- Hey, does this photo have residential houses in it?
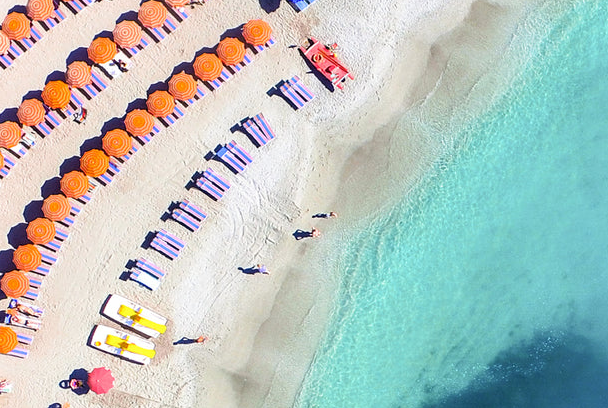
No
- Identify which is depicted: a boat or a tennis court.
boat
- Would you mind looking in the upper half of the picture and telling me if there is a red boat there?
Yes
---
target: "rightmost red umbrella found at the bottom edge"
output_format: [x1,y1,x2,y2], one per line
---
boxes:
[85,366,113,394]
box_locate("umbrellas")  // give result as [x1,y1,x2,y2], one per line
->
[81,149,111,180]
[243,18,272,48]
[216,37,247,67]
[0,120,24,150]
[85,366,113,394]
[15,99,45,129]
[192,53,221,82]
[65,60,96,89]
[0,324,19,353]
[167,72,198,102]
[145,88,175,118]
[0,271,29,301]
[0,11,29,40]
[41,80,71,111]
[41,195,70,225]
[25,215,54,245]
[162,0,188,9]
[12,243,40,272]
[59,169,89,197]
[102,127,132,156]
[140,0,169,30]
[113,20,142,50]
[88,36,119,65]
[26,0,55,21]
[125,106,154,136]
